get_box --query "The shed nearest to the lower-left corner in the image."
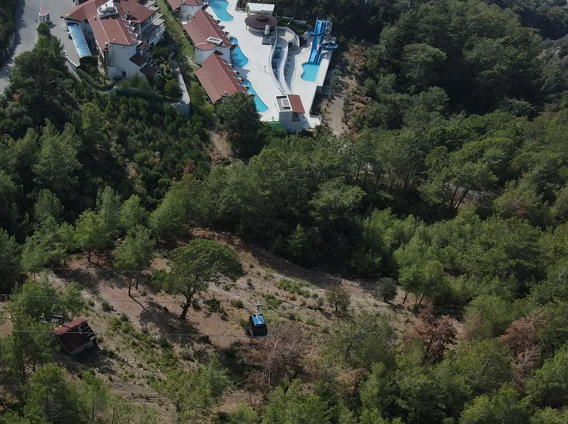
[54,317,95,356]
